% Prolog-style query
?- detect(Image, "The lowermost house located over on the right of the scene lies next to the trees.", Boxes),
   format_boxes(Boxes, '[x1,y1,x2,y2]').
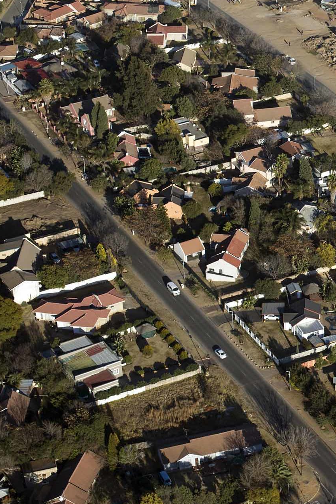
[157,425,249,473]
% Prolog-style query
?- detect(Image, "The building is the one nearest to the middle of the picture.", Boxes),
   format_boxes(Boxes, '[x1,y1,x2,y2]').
[174,236,207,263]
